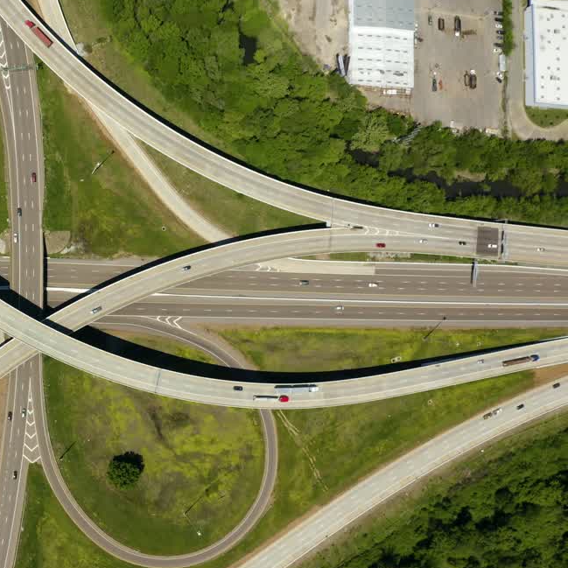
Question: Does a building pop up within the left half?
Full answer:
No, no building can be made out within the left half.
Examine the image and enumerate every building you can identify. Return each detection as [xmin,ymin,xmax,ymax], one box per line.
[346,0,415,90]
[520,4,568,108]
